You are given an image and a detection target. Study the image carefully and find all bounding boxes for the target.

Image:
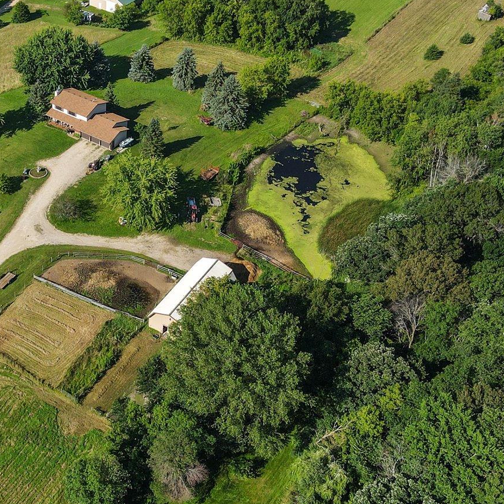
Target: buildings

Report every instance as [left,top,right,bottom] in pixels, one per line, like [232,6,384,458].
[478,5,499,21]
[148,258,236,342]
[48,86,126,151]
[90,0,139,12]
